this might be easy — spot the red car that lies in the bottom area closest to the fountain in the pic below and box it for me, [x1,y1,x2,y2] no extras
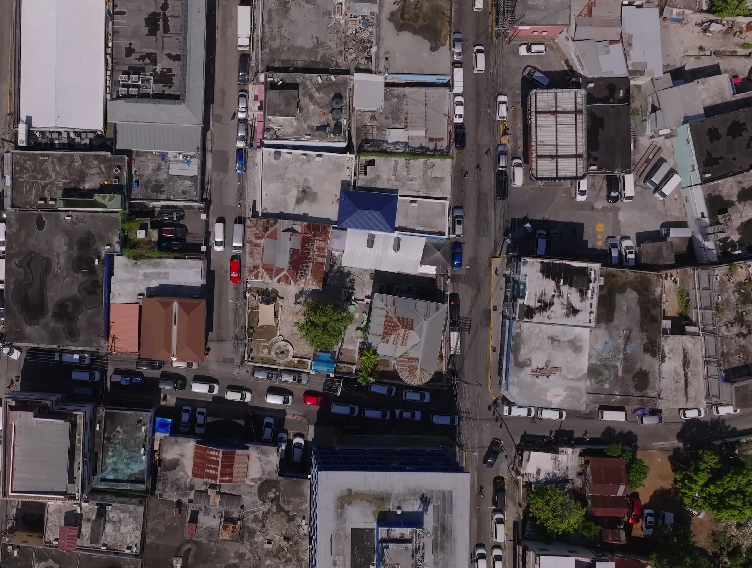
[299,393,325,407]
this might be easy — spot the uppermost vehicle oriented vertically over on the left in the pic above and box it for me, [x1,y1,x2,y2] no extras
[235,1,252,52]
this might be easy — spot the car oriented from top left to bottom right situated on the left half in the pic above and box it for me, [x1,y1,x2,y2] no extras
[0,341,27,364]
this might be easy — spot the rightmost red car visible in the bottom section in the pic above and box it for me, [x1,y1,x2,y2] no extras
[625,493,644,524]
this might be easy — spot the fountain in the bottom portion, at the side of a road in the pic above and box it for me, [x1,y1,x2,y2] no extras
[271,338,295,362]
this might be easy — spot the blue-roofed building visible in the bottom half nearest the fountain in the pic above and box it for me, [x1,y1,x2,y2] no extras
[310,349,336,374]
